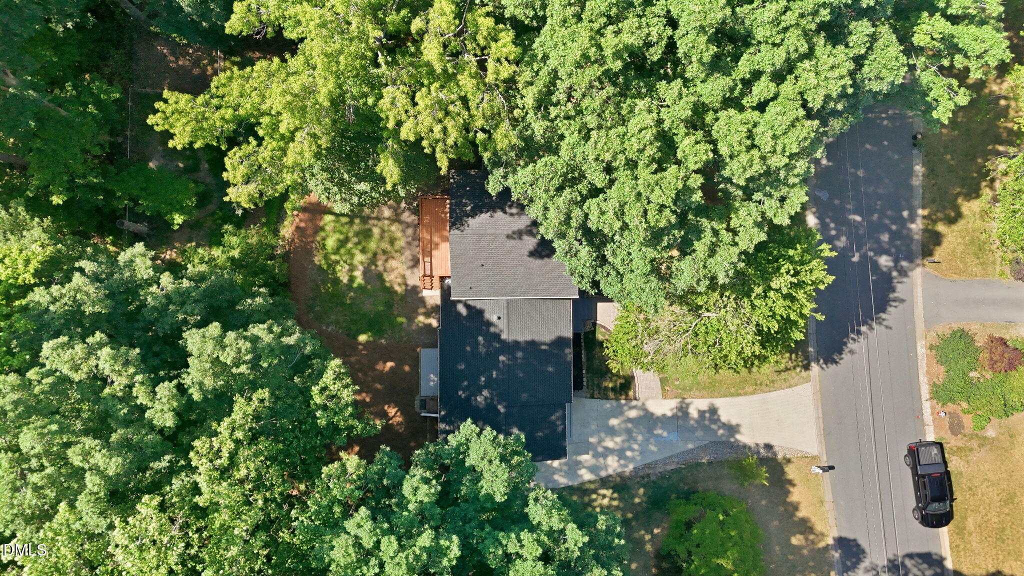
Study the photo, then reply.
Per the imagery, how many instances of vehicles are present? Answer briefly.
1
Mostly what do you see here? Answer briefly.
trees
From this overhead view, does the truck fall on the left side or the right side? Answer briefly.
right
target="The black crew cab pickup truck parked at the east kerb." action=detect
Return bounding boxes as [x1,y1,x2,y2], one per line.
[907,437,958,534]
